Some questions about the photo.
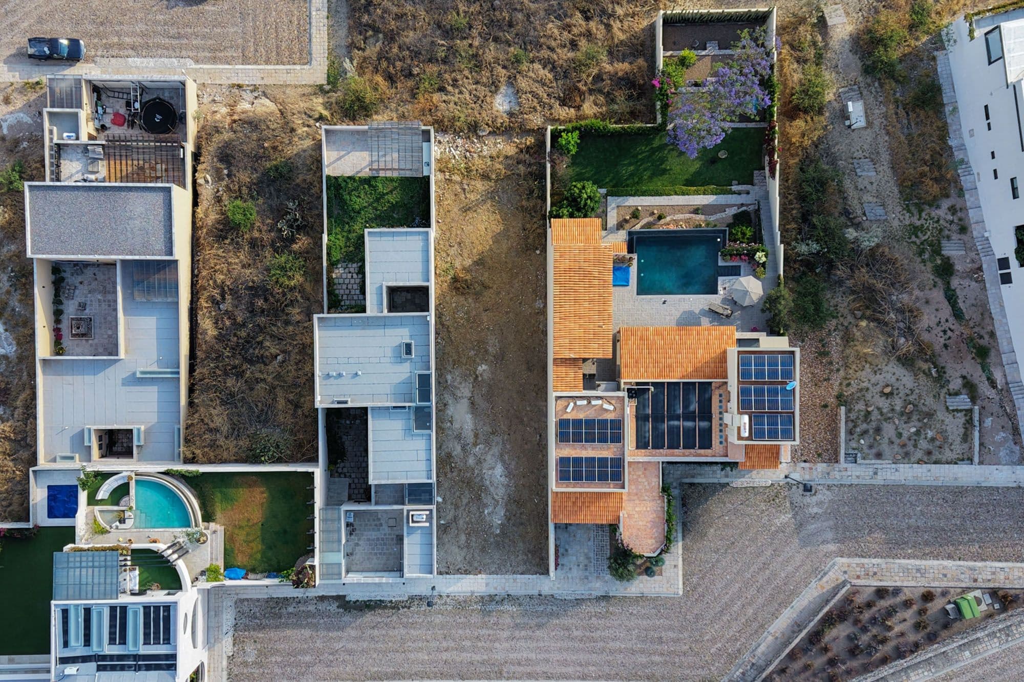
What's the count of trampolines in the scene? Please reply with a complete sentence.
I count just 1 trampoline.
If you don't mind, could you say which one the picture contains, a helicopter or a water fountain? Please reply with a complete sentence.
The image shows a water fountain.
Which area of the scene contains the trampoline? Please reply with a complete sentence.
You can find the trampoline in the top left area of the picture.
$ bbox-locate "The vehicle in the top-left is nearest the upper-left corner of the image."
[23,33,83,60]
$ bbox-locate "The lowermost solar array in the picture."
[559,457,622,482]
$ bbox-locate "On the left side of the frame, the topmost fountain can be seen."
[66,316,93,340]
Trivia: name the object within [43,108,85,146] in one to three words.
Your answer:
building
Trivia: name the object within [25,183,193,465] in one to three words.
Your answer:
house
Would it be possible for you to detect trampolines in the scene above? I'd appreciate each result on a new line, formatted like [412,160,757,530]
[134,91,182,140]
